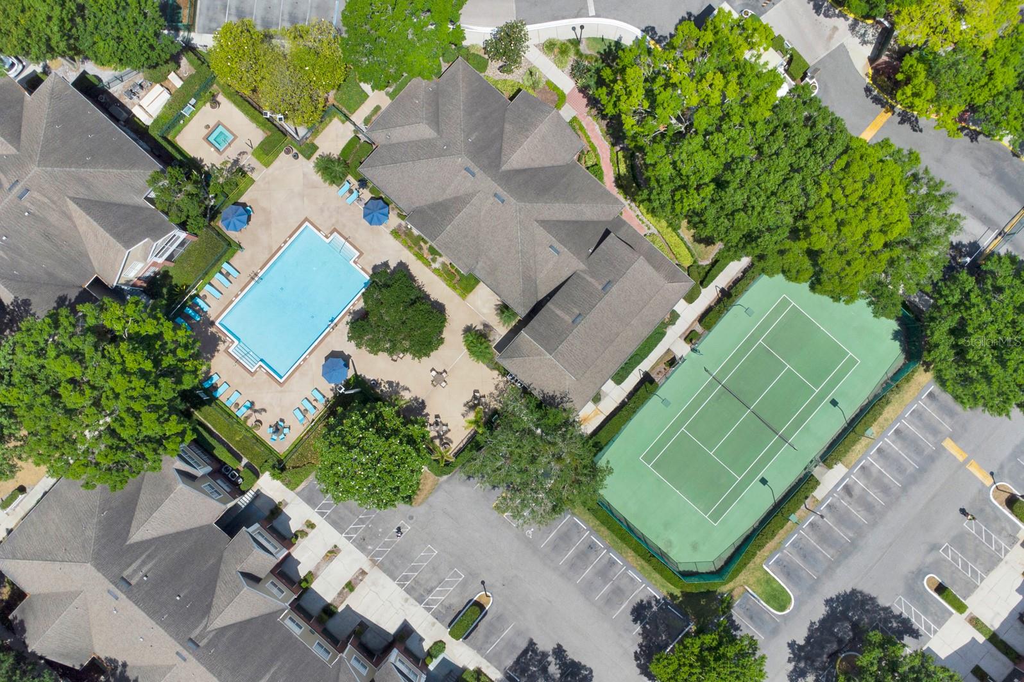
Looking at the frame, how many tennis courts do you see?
1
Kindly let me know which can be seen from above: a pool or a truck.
pool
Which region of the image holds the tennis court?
right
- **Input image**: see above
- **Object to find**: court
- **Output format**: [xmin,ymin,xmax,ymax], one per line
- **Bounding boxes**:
[597,241,907,574]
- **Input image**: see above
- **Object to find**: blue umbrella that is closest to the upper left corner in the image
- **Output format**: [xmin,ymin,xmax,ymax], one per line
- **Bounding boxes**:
[222,205,249,232]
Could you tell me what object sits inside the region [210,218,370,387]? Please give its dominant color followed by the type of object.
blue swimming pool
